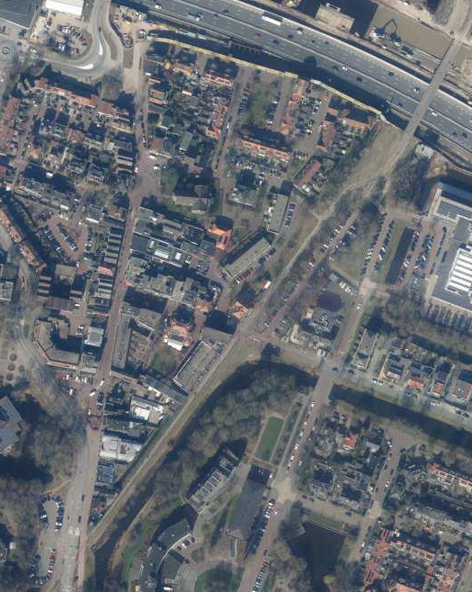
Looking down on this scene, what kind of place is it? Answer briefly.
residential area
